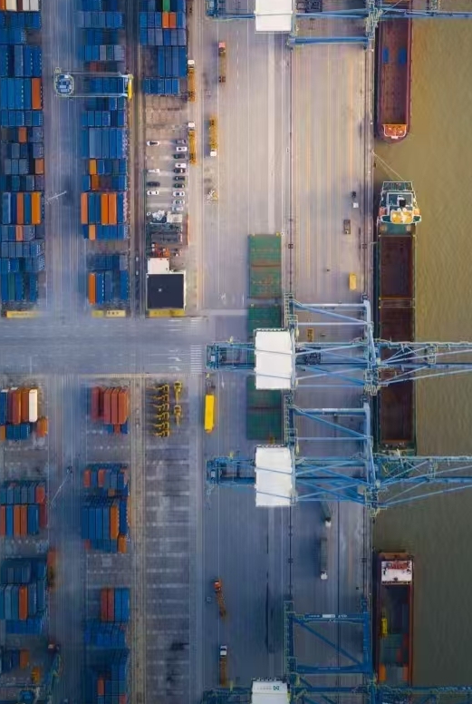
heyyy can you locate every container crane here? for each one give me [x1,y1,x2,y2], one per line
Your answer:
[52,62,136,111]
[208,604,472,704]
[205,0,472,60]
[207,395,472,519]
[207,291,472,397]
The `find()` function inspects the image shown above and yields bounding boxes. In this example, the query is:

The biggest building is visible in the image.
[148,272,187,308]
